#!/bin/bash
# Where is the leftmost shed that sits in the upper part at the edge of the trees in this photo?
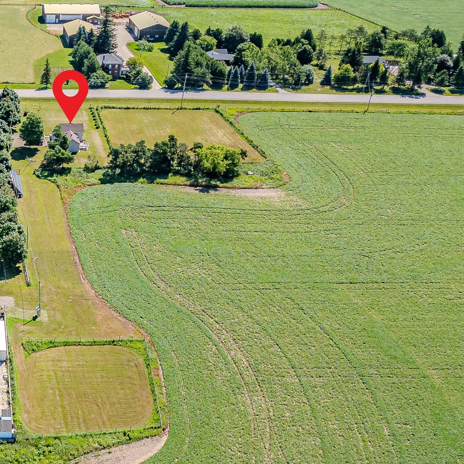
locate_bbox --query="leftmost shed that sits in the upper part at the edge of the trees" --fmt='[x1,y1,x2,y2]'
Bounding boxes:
[11,160,32,197]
